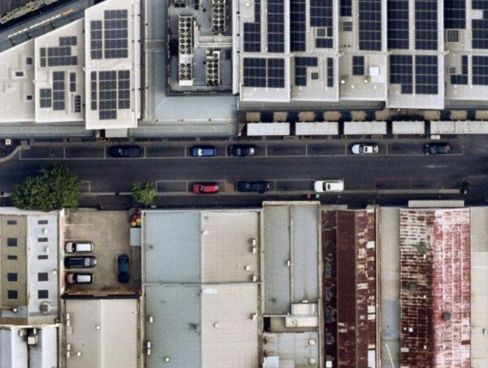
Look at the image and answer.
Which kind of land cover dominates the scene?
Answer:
buildings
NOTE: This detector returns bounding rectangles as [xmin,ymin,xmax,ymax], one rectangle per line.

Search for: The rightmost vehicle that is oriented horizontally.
[424,143,451,156]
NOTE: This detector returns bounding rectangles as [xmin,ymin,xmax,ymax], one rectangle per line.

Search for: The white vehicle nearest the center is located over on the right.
[314,180,344,194]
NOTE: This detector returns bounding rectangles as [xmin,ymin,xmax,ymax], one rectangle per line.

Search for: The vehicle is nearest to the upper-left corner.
[111,144,141,159]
